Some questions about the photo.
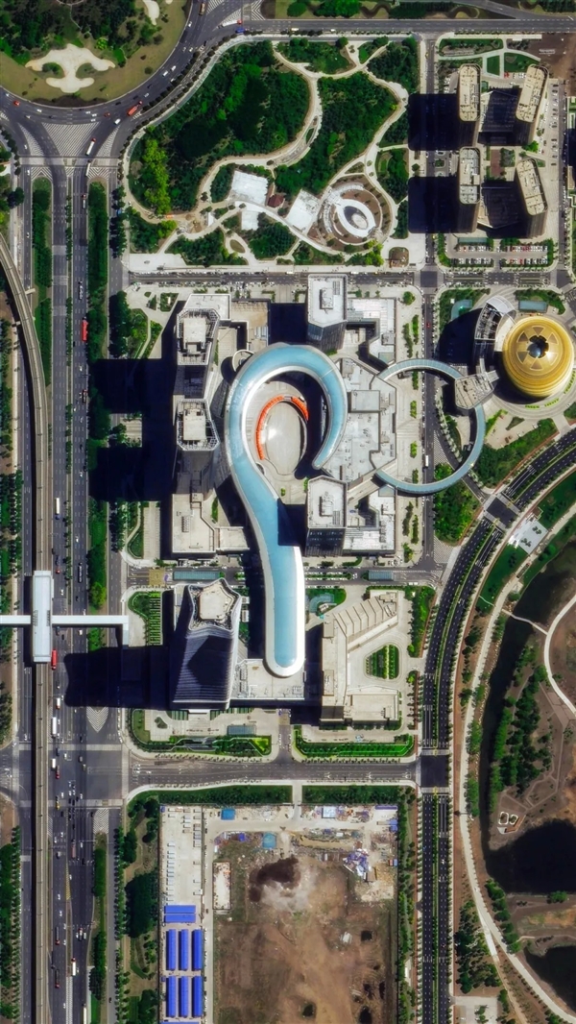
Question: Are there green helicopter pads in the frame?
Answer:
No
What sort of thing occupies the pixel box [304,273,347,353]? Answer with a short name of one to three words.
building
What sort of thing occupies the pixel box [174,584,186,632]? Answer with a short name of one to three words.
building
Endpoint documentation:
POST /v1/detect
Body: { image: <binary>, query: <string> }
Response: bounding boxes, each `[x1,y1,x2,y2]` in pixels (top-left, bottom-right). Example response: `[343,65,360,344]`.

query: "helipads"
[199,584,234,623]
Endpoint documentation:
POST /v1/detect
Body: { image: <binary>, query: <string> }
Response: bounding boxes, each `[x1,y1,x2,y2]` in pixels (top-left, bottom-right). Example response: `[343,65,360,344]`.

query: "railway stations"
[33,571,53,666]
